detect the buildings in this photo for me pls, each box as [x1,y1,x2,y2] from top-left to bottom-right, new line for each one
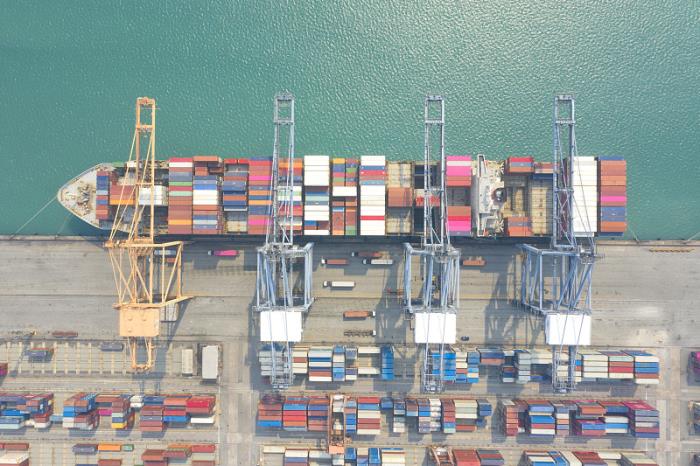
[181,349,194,375]
[202,344,220,379]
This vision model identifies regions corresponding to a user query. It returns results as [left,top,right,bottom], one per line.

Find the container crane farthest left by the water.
[100,90,204,371]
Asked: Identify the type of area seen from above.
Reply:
port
